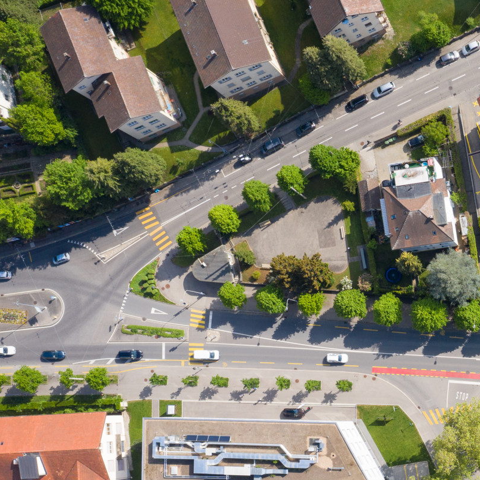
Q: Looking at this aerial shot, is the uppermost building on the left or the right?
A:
right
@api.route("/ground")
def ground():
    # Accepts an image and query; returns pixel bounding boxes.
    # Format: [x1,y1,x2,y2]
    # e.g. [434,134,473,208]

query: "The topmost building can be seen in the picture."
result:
[306,0,394,45]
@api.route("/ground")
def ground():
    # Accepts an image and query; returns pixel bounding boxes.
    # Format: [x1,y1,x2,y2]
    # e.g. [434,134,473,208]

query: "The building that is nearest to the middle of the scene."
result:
[192,245,241,285]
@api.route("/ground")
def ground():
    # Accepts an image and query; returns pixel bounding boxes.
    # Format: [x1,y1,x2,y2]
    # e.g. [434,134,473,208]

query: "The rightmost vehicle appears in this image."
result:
[460,40,480,56]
